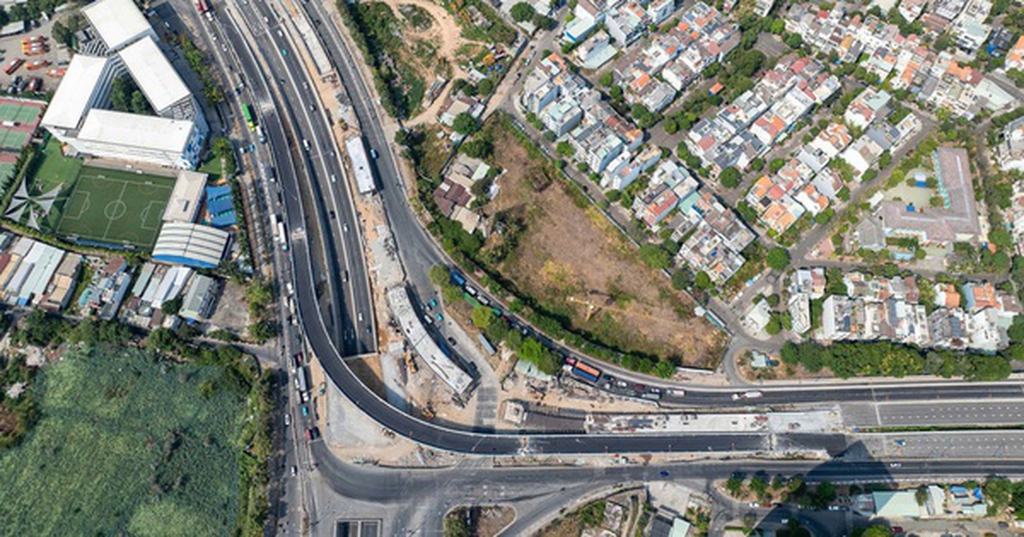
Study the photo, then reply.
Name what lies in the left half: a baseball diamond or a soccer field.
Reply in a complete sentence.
You can see a soccer field in the left half.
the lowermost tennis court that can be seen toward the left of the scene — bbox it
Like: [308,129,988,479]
[0,152,26,182]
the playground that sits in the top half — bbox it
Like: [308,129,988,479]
[885,167,938,213]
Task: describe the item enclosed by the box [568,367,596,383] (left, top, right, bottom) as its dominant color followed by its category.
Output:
blue vehicle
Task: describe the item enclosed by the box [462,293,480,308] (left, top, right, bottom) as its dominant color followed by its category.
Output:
green vehicle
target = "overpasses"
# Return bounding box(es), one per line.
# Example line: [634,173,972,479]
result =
[211,0,846,457]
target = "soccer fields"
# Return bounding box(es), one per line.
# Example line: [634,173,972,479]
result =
[49,164,178,252]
